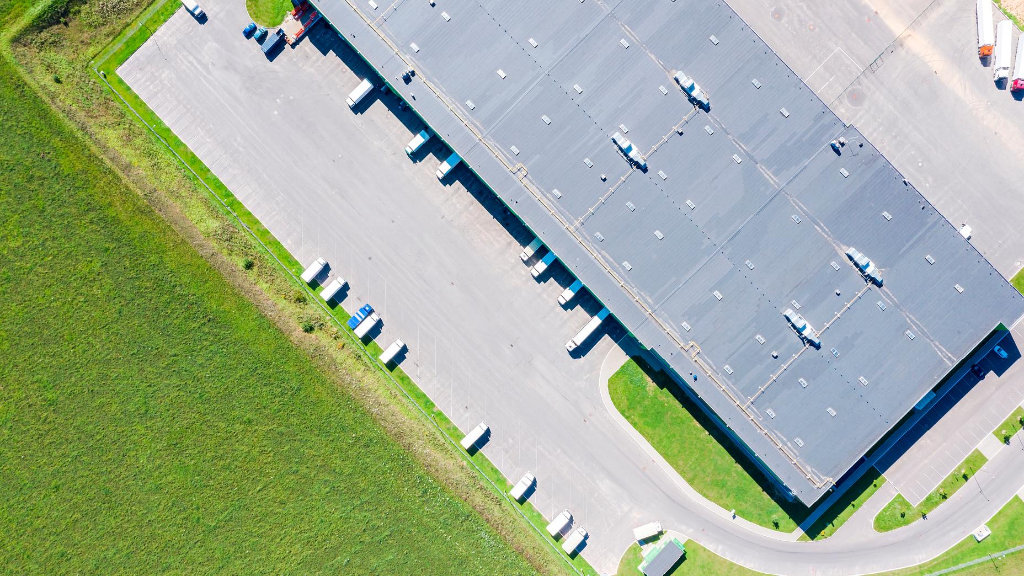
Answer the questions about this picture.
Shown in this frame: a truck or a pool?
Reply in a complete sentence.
The one in the frame is a truck.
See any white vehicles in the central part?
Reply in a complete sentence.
Yes, a white vehicle appears in the central part.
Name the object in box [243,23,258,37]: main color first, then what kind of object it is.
blue car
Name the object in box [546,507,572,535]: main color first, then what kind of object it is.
white truck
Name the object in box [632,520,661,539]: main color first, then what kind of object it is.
white vehicle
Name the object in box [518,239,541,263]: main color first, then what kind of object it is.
white truck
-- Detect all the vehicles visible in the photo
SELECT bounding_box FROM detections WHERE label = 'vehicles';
[291,9,320,39]
[379,337,406,364]
[994,20,1014,80]
[301,256,329,282]
[435,153,460,180]
[546,507,572,535]
[346,79,373,108]
[971,365,985,379]
[320,275,348,301]
[181,0,205,18]
[243,23,258,37]
[530,251,555,278]
[632,520,661,539]
[557,280,582,304]
[993,345,1008,359]
[404,130,431,157]
[562,524,587,553]
[957,221,973,237]
[978,0,996,58]
[518,239,541,263]
[254,26,268,39]
[565,307,609,352]
[1012,33,1024,92]
[461,421,488,448]
[511,470,535,498]
[354,312,382,338]
[261,28,287,55]
[283,35,294,45]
